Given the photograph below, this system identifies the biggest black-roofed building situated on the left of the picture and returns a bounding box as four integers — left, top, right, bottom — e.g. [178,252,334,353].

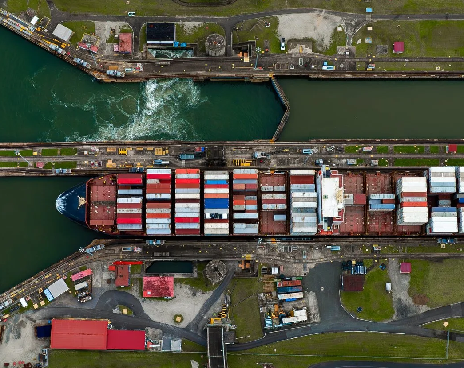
[146,23,175,44]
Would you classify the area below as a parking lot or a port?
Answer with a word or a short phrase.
port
